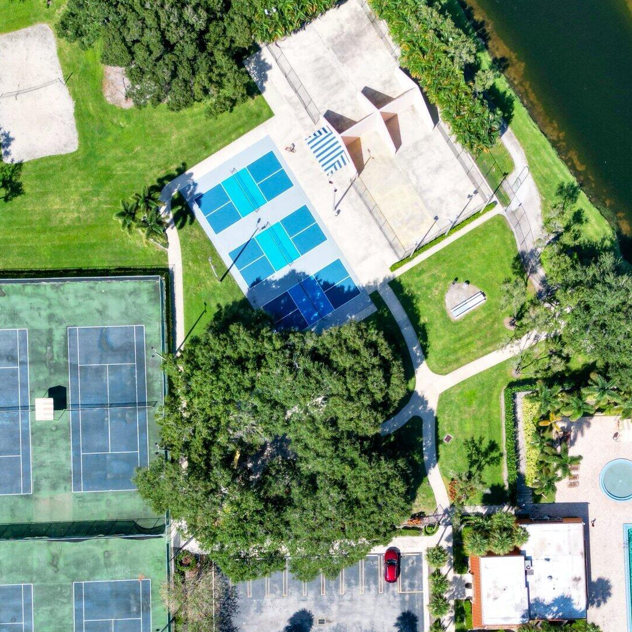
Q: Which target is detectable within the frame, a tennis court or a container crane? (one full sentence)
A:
It is a tennis court that can be seen here.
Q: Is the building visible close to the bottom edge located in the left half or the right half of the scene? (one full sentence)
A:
The building visible close to the bottom edge appears in the right half of the scene.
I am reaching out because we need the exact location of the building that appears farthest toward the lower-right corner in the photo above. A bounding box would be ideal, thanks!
[470,518,587,632]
